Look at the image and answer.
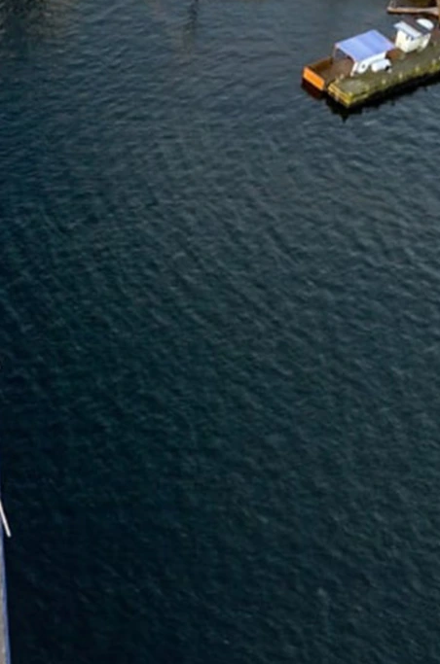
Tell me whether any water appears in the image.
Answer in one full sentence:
Yes, there is water in the image.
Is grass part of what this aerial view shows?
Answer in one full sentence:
No, there's no grass in this view.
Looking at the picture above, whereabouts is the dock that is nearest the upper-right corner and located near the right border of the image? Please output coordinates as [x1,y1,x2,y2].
[389,1,437,17]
